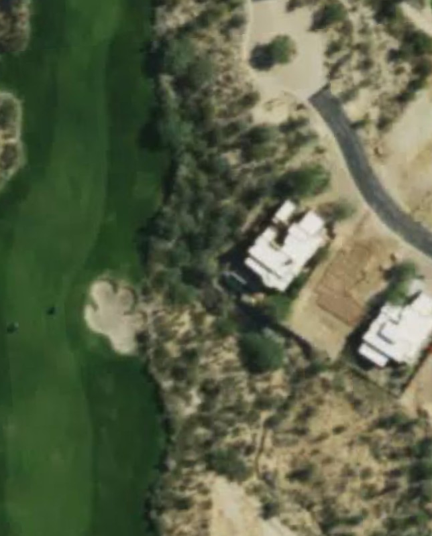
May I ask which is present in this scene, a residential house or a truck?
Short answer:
residential house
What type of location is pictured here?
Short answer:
golf course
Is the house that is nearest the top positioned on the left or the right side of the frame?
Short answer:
right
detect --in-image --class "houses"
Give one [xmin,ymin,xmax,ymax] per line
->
[244,200,330,294]
[359,289,432,367]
